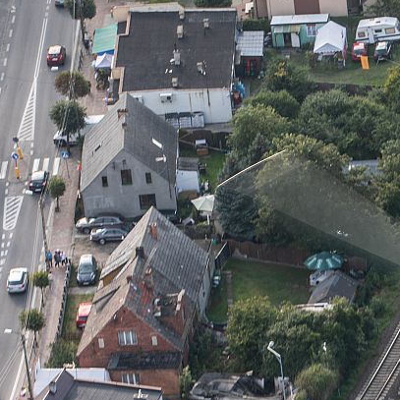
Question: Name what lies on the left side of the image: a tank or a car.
car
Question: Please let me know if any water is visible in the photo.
No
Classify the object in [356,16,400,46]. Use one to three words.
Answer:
camper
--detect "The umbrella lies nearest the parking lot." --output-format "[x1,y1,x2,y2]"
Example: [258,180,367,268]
[189,195,220,211]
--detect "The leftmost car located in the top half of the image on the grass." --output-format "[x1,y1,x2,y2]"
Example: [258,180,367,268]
[352,43,370,63]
